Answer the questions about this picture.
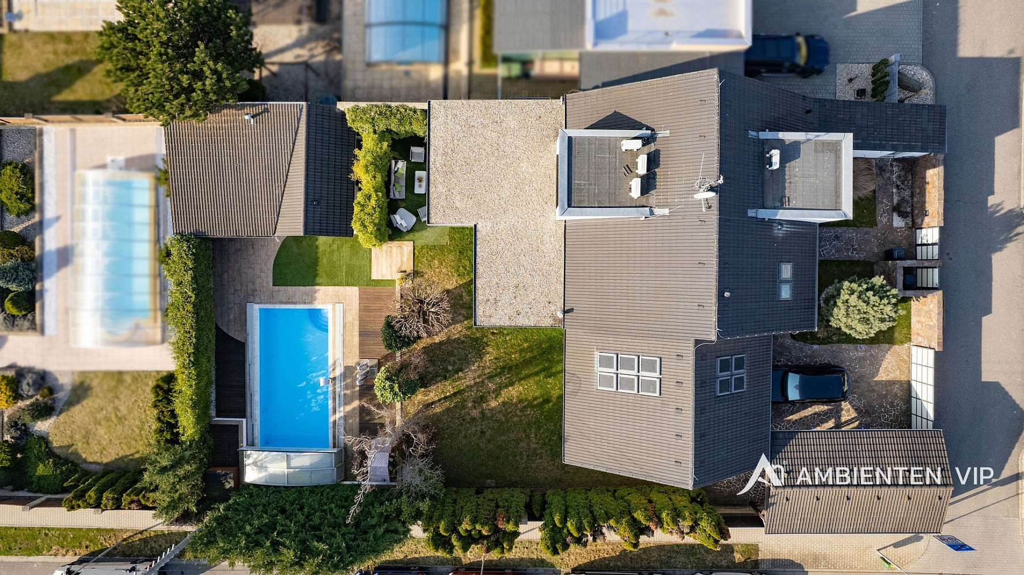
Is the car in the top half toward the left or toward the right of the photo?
right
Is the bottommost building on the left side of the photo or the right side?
right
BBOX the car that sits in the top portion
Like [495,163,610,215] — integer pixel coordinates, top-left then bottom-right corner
[744,30,825,79]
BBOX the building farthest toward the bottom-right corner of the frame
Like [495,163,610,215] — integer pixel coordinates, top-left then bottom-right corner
[751,425,954,534]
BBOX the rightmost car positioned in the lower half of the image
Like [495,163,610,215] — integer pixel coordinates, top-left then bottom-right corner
[773,361,846,407]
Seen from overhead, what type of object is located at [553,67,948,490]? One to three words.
house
